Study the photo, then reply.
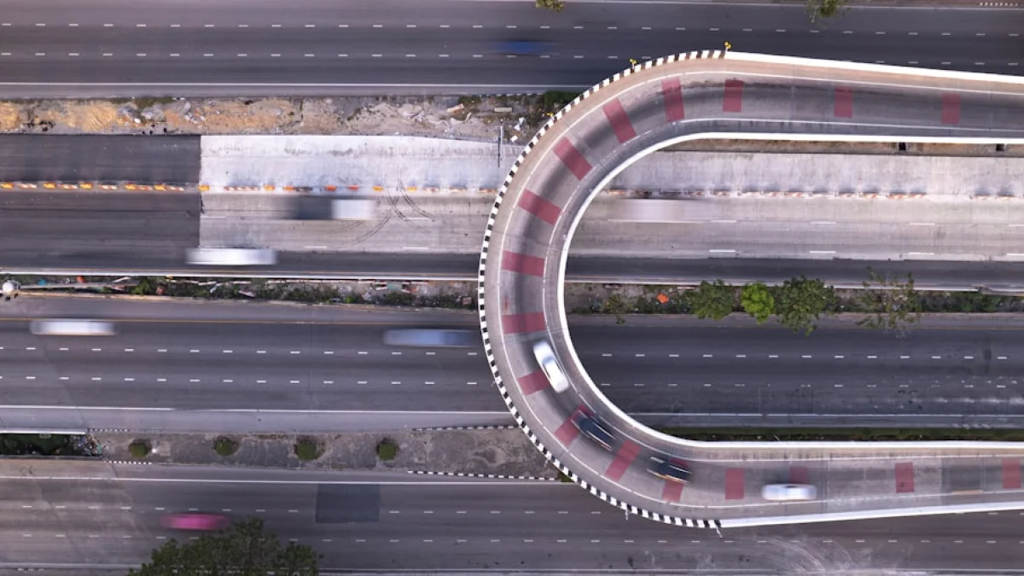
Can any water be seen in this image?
No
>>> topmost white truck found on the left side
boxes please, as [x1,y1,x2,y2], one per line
[294,196,374,221]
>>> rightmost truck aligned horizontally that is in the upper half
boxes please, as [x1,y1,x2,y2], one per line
[620,199,697,223]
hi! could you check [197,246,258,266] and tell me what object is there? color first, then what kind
white vehicle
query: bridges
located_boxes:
[478,51,1024,528]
